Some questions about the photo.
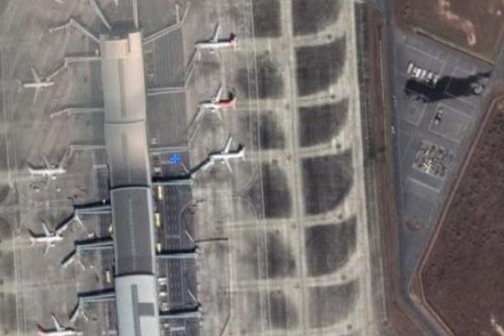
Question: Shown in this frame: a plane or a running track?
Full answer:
Visible in the photo is a plane.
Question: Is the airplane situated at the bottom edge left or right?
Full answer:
The airplane situated at the bottom edge appears in the left half of the scene.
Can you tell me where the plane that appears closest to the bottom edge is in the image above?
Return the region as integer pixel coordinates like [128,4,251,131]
[37,316,77,336]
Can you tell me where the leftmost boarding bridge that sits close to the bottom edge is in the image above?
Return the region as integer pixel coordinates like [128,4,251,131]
[69,292,116,322]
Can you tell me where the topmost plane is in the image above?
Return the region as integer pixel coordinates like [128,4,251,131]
[196,24,236,60]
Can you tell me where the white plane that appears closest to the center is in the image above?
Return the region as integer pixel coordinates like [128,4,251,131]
[210,136,245,172]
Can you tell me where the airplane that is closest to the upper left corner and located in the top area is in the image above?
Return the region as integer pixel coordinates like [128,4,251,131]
[20,69,55,100]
